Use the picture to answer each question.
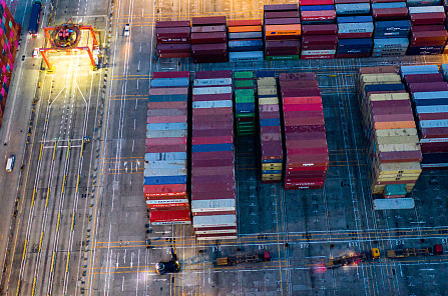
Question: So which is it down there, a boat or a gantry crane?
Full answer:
It is a gantry crane that can be seen here.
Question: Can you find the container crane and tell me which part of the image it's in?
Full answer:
You can find the container crane in the top left area of the picture.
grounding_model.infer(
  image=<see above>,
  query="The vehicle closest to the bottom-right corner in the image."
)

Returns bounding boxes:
[393,241,448,258]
